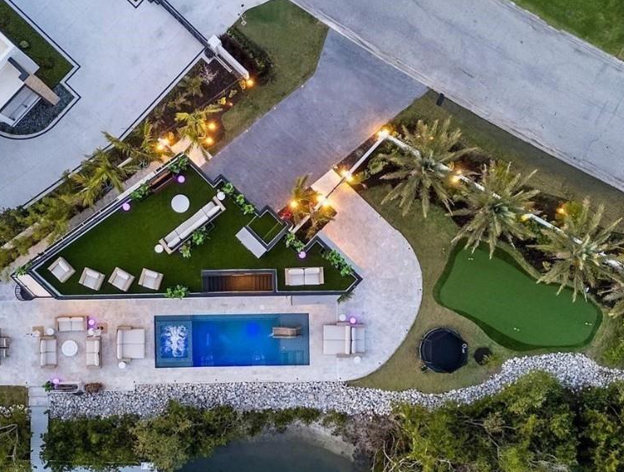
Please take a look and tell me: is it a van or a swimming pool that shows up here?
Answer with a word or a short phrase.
swimming pool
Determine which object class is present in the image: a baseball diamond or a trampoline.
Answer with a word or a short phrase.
trampoline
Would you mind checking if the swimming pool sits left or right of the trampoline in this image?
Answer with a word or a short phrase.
left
